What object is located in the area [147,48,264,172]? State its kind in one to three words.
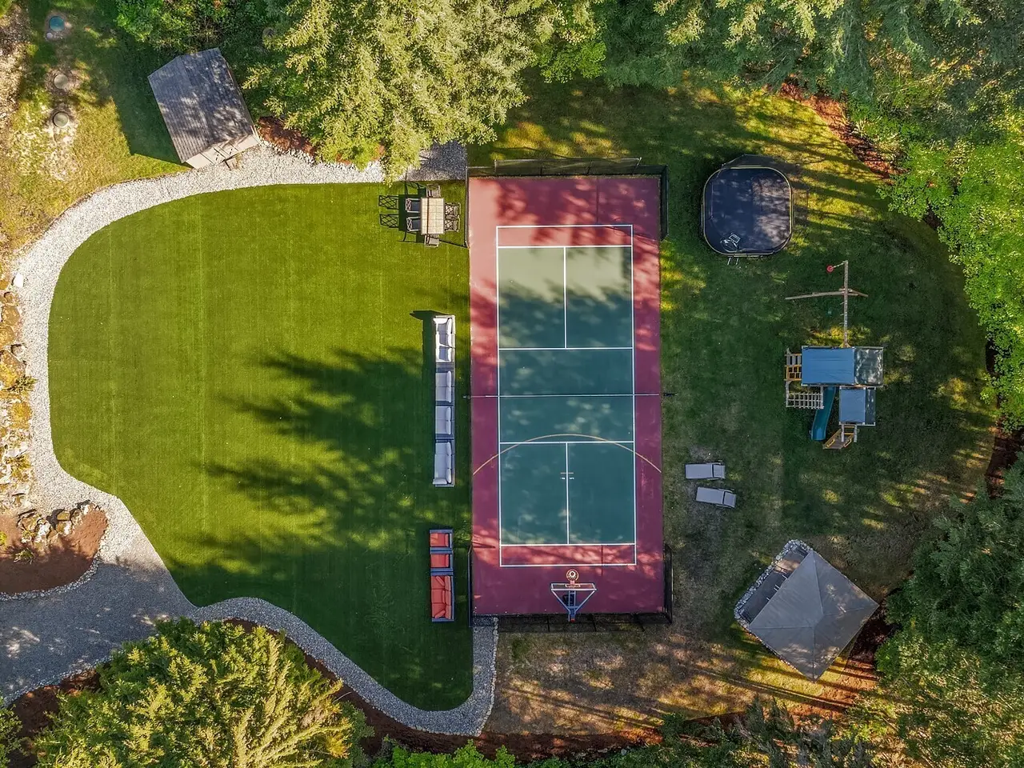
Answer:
shed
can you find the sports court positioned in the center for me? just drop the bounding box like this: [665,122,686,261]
[469,175,665,616]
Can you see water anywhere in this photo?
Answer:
No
